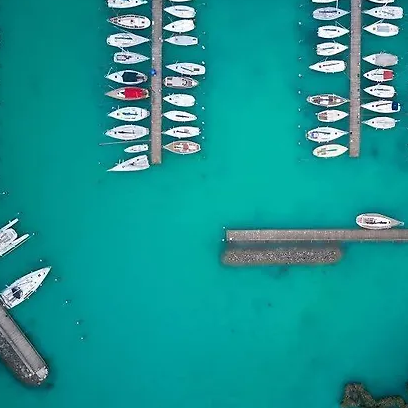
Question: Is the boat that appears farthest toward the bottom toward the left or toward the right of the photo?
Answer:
left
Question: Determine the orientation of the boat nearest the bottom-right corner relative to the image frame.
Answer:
horizontally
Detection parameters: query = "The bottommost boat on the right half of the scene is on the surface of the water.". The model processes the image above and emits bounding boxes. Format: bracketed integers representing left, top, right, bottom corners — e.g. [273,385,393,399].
[355,213,405,233]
